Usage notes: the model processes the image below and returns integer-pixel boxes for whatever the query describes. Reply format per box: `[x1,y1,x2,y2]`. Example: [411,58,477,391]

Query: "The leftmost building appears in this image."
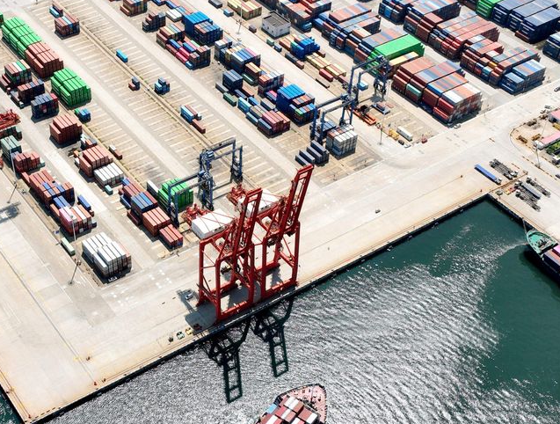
[260,11,291,37]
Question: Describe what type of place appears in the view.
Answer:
port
